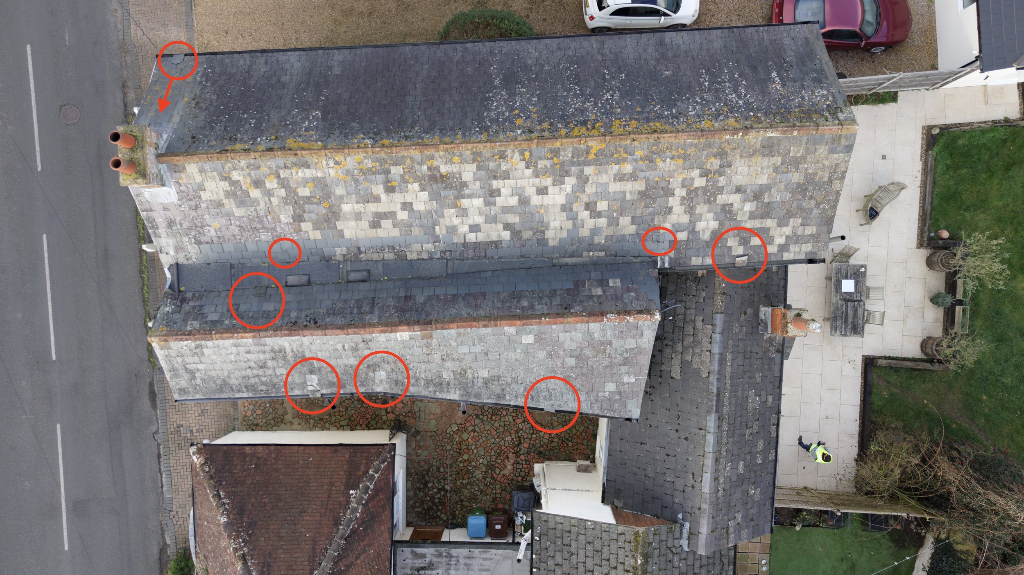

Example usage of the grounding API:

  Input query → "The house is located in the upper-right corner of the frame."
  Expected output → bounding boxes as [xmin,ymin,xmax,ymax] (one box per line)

[940,0,1024,104]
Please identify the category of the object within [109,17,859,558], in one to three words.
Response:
house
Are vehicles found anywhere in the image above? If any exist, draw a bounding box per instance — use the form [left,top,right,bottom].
[773,0,914,52]
[586,0,702,28]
